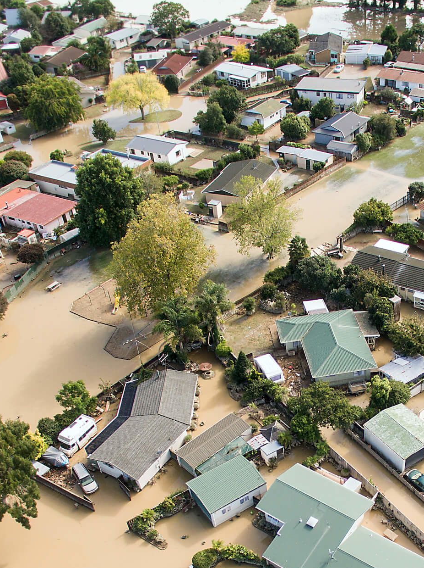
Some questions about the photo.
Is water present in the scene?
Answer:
Yes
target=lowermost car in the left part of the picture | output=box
[70,461,100,495]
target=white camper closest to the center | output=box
[253,353,282,384]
